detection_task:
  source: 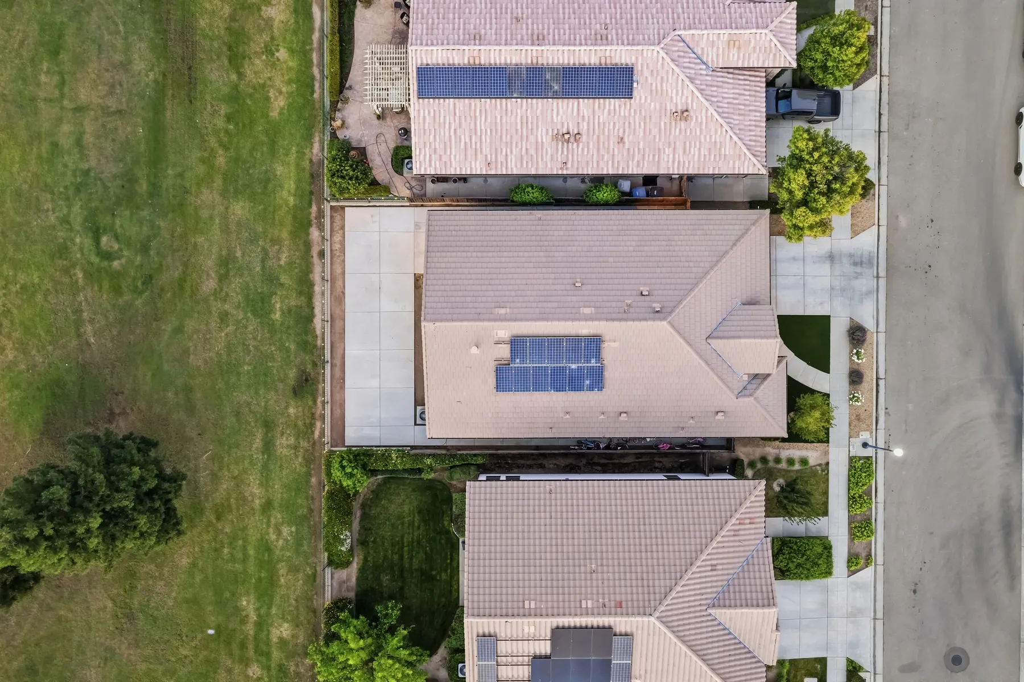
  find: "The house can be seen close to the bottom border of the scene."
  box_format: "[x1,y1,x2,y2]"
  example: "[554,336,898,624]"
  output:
[462,474,779,682]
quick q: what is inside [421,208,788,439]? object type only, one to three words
house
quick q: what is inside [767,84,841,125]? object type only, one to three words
truck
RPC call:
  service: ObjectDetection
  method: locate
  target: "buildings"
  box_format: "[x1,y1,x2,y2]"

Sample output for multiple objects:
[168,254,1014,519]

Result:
[421,208,788,439]
[407,0,799,178]
[462,474,779,682]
